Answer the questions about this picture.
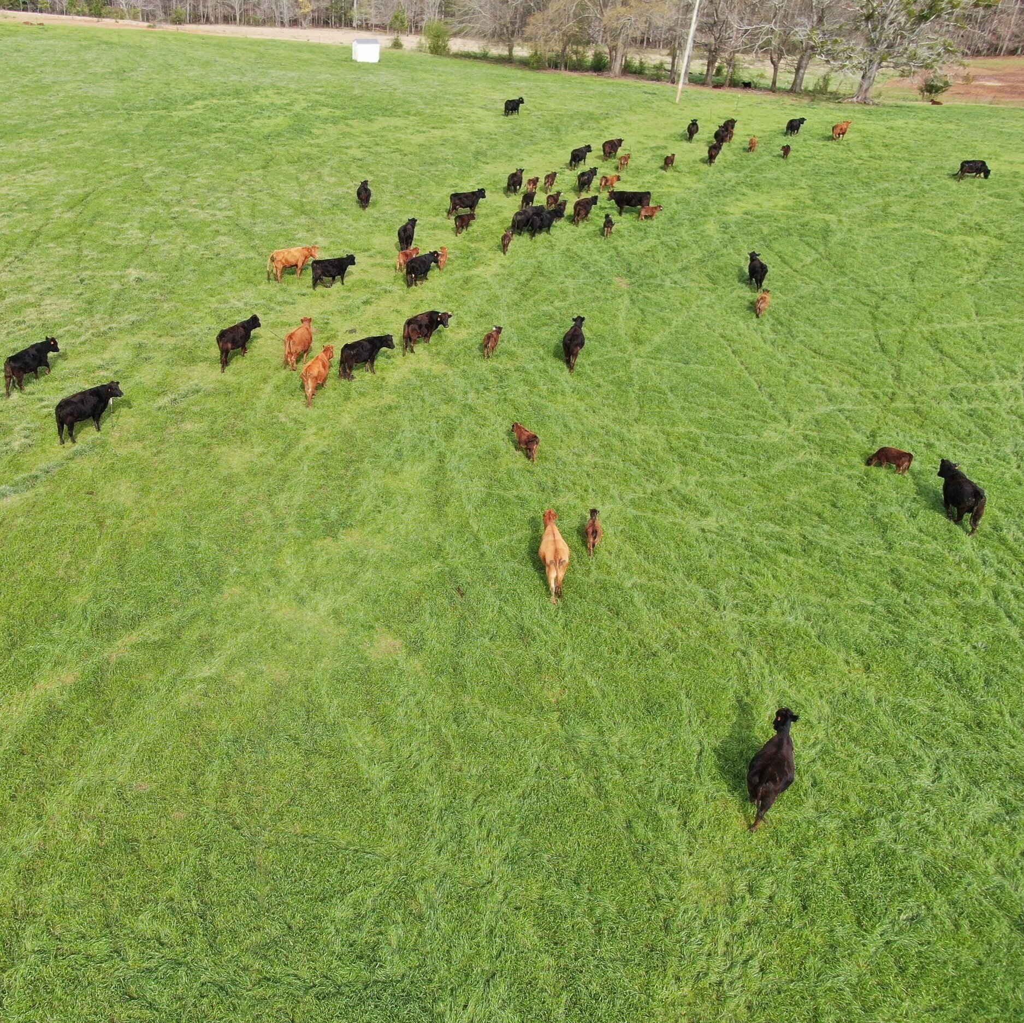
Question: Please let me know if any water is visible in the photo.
No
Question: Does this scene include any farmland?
Yes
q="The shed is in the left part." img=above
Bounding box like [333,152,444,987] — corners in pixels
[349,35,379,62]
